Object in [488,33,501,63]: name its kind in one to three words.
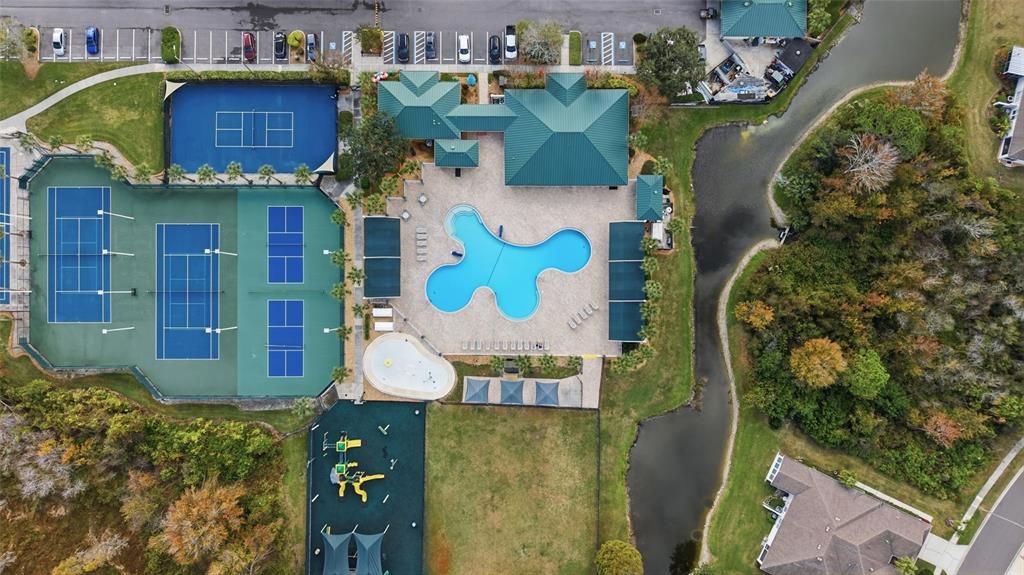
vehicle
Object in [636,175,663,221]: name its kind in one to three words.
building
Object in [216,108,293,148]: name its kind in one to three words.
sports court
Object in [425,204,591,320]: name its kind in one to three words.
swimming pool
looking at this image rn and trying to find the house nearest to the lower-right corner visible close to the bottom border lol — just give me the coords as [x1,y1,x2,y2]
[751,451,932,575]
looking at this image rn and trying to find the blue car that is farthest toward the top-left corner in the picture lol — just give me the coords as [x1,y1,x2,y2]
[83,25,98,54]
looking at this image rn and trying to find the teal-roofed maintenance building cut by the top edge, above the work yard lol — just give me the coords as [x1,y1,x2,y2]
[717,0,807,42]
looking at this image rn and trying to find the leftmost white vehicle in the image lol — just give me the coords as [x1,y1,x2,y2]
[49,26,64,55]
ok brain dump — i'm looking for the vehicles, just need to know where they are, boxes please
[83,25,98,54]
[396,30,409,61]
[488,33,501,63]
[49,26,64,55]
[273,30,286,58]
[241,30,255,59]
[504,24,518,58]
[425,29,437,58]
[771,69,790,92]
[457,32,470,61]
[306,30,319,59]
